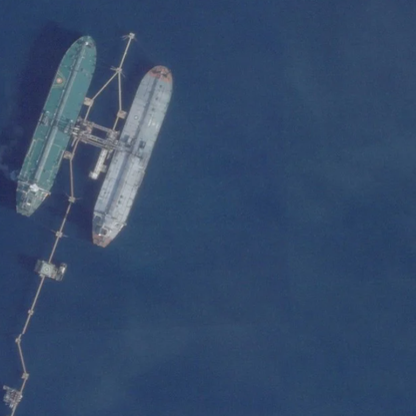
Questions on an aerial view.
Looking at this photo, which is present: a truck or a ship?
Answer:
ship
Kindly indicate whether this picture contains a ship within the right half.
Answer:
No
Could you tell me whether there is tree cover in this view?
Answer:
No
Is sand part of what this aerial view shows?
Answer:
No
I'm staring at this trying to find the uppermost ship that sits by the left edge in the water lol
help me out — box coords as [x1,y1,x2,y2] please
[17,35,95,214]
